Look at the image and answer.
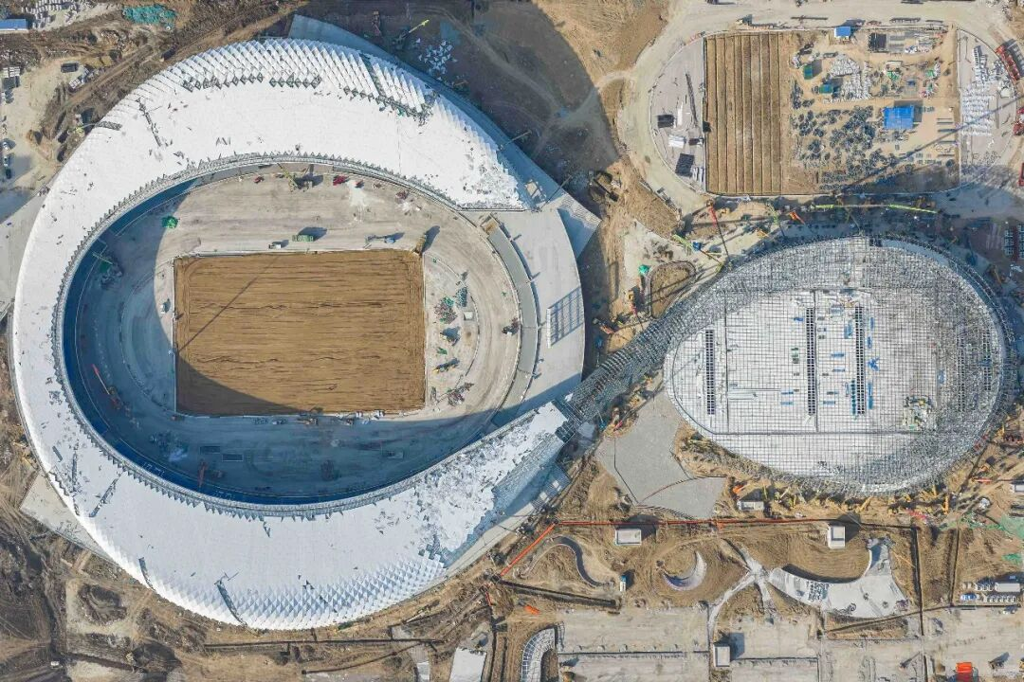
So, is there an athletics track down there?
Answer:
Yes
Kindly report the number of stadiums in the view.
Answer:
2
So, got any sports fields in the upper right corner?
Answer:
Yes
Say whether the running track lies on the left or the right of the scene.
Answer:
left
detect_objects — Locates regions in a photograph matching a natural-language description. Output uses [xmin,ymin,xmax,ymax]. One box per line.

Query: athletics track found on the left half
[79,170,520,494]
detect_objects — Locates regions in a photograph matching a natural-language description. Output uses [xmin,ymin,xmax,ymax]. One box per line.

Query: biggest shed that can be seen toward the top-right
[884,103,916,128]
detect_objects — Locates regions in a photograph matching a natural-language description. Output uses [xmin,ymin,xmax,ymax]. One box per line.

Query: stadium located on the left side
[9,15,599,631]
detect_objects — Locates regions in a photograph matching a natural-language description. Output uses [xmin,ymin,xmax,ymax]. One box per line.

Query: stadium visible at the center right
[662,235,1018,496]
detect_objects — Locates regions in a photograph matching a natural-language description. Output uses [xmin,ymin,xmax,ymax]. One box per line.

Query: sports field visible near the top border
[649,27,1017,196]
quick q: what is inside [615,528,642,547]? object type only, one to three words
building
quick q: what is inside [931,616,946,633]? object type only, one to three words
work vehicle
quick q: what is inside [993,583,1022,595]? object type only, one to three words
building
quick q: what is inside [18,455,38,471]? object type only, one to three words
work vehicle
